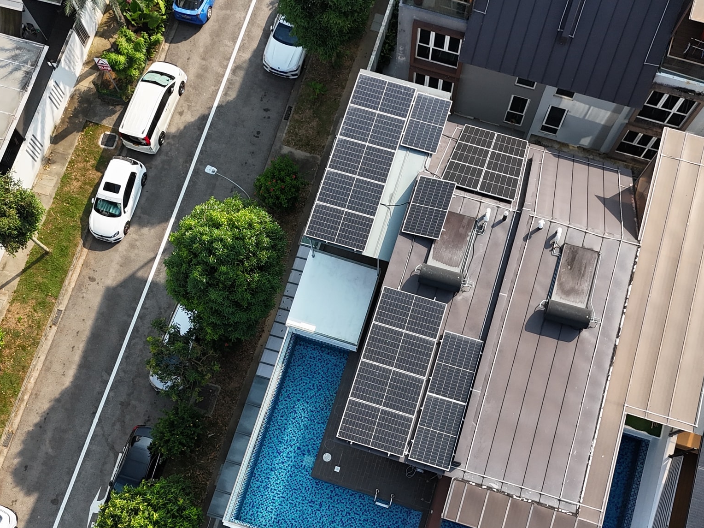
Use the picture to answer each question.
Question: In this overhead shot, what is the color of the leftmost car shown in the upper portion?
white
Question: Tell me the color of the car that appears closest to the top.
blue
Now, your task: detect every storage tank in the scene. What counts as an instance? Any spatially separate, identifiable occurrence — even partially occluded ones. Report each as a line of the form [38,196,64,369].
[418,259,463,288]
[545,293,595,323]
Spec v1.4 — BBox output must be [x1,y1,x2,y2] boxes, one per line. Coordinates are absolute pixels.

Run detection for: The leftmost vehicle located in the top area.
[88,152,149,243]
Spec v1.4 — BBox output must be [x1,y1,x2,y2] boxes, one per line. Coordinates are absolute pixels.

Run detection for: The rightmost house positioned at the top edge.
[394,0,704,181]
